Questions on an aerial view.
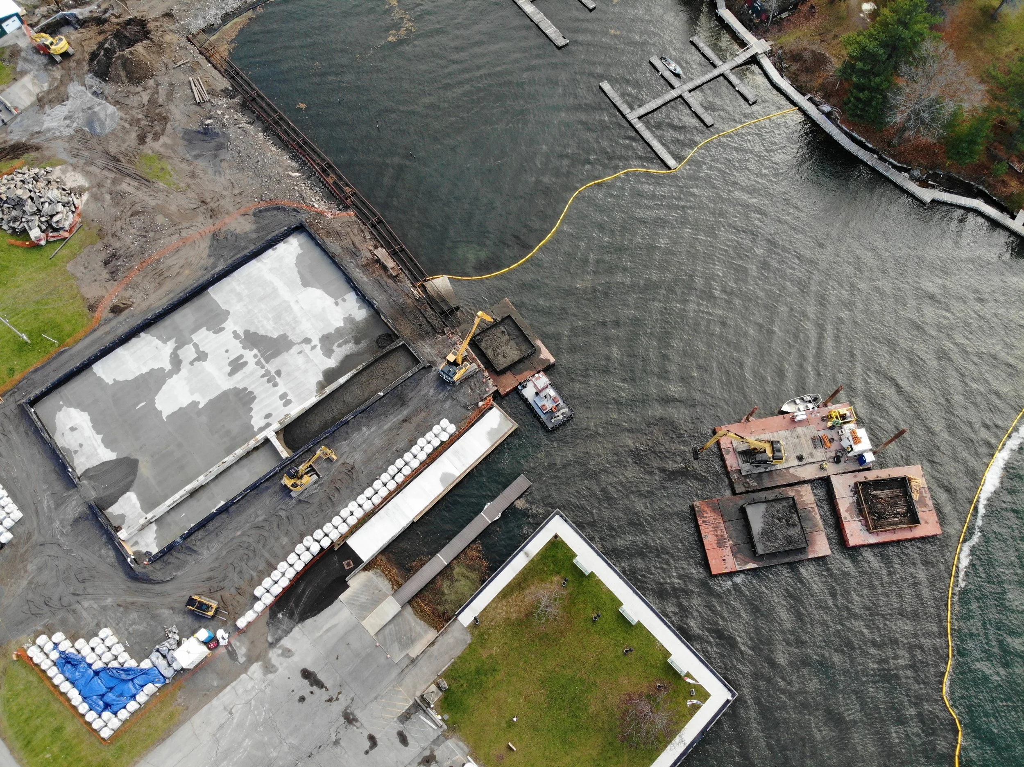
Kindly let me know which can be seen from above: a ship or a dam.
ship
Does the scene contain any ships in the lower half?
Yes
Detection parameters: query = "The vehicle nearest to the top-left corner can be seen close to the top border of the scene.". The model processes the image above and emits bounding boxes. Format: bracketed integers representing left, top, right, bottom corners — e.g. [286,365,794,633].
[33,23,77,64]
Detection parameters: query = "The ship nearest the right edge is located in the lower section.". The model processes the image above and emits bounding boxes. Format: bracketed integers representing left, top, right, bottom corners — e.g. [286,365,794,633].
[824,465,941,549]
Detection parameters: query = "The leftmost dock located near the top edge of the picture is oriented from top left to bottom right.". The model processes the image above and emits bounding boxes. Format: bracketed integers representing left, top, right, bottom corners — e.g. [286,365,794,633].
[513,0,569,49]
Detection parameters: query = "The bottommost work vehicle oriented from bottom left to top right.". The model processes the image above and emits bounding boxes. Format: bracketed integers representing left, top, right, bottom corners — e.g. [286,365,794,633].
[276,443,343,498]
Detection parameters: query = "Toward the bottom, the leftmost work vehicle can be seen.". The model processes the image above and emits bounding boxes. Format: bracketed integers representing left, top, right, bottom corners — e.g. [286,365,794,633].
[177,592,227,620]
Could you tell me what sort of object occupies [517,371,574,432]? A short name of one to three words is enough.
boat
